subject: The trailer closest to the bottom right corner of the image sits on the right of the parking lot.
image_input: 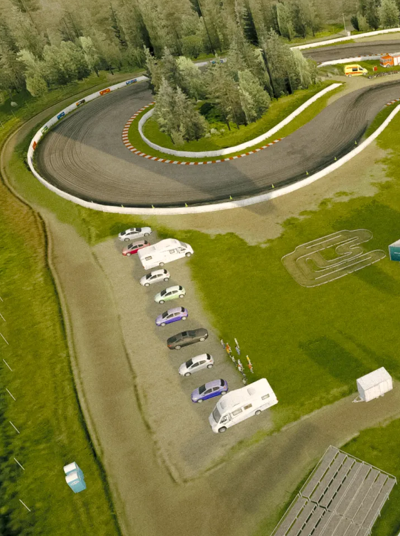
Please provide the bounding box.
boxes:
[351,366,394,404]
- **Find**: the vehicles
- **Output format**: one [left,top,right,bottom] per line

[141,237,196,266]
[190,378,230,403]
[155,306,190,326]
[345,65,366,77]
[201,381,270,435]
[119,228,152,241]
[166,328,208,349]
[139,269,172,286]
[120,239,151,256]
[154,284,187,303]
[177,352,216,377]
[380,53,400,67]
